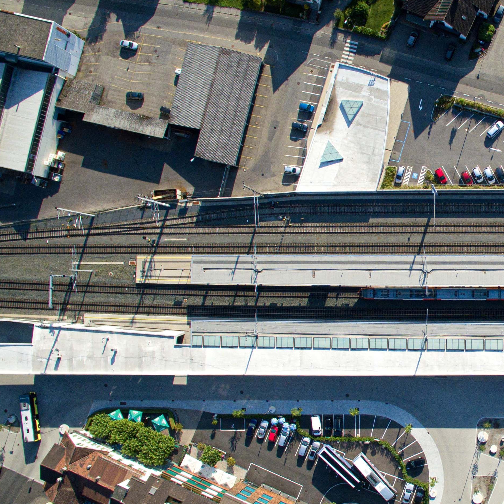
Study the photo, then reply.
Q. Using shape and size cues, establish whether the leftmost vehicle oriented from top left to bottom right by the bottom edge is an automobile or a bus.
bus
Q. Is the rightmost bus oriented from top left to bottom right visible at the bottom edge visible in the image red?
No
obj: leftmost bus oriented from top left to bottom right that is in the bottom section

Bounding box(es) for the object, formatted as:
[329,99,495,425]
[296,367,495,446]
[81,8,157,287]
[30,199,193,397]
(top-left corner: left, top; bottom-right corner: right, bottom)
[316,444,365,492]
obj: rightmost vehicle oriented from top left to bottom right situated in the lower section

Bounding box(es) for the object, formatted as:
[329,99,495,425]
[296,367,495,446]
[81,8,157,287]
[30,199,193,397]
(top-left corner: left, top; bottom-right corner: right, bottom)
[352,451,397,502]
